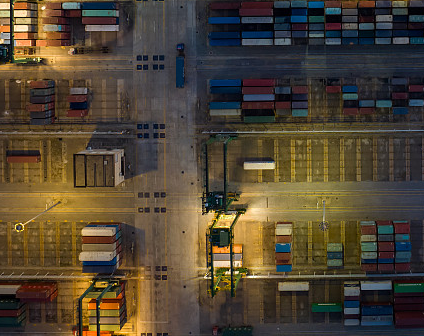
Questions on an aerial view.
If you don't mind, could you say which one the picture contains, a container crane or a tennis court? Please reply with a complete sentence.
This aerial view contains a container crane.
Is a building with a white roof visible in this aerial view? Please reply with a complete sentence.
No, I can't see a single building with a white roof in this photo.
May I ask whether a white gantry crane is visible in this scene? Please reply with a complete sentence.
No, the frame has no white gantry crane in it.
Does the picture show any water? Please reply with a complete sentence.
No, there's no water in this view.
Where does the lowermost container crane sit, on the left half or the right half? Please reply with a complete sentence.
The lowermost container crane sits on the left side.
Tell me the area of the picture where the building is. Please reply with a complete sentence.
The building sits in the left section of the image.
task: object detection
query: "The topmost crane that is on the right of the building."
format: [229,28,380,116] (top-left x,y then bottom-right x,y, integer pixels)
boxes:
[199,133,240,213]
